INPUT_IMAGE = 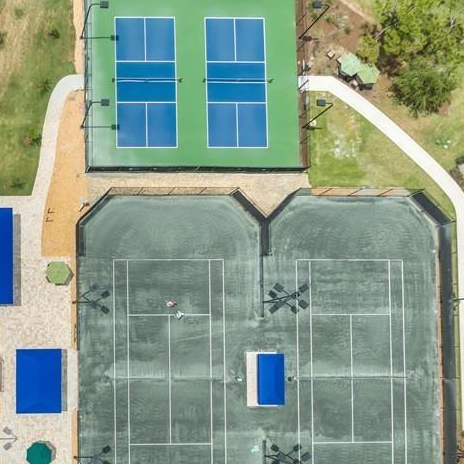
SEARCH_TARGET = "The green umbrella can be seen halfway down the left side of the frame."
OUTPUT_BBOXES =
[45,260,71,285]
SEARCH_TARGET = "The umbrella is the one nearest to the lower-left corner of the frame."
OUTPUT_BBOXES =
[27,441,52,464]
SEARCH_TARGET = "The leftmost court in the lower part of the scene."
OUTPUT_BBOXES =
[78,195,263,464]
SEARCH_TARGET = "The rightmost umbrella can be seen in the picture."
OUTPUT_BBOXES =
[354,62,380,86]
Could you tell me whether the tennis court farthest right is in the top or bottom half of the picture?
bottom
